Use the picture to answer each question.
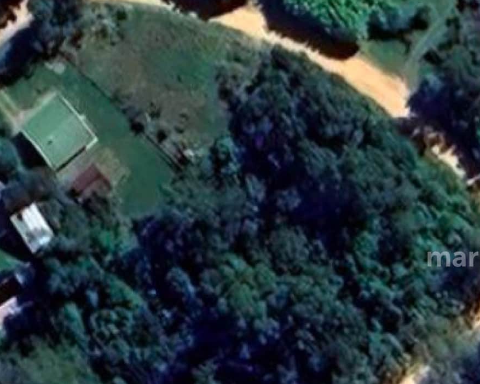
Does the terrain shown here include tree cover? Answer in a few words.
Yes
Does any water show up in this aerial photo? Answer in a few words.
No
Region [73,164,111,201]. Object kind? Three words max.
shed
